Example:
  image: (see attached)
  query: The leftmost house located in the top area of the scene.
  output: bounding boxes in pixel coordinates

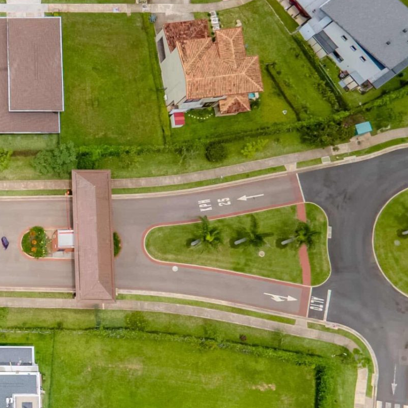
[0,18,63,136]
